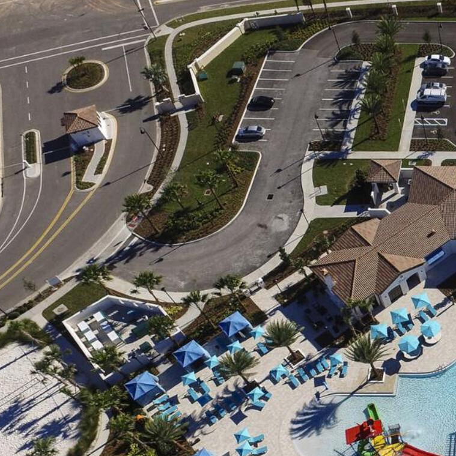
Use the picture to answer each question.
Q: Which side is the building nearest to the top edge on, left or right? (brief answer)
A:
left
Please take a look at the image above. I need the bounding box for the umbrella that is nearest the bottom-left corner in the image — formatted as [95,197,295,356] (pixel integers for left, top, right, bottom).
[182,371,199,388]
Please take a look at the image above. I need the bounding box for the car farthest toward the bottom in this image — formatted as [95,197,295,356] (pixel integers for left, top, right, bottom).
[236,128,265,140]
